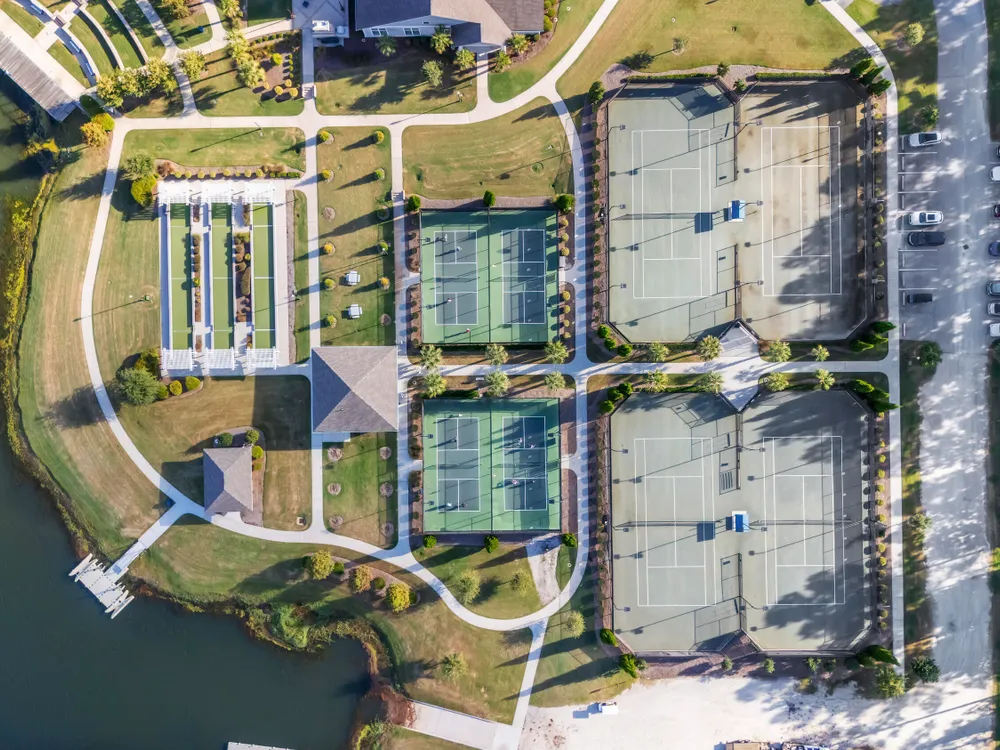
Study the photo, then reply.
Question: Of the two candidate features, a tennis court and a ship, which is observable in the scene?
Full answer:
Of the two, only a tennis court appears.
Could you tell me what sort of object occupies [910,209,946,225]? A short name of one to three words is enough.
car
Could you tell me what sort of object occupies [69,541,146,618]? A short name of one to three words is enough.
pier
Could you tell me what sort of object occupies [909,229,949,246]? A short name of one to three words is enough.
car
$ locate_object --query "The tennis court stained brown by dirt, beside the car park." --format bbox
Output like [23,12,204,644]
[734,84,866,341]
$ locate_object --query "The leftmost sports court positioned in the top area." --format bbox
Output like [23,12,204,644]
[420,210,489,343]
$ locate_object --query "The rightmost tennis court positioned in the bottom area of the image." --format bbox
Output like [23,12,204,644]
[737,392,871,649]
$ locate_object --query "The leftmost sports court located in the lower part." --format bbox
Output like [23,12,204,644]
[423,399,491,532]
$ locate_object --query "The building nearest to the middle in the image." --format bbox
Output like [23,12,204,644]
[311,345,398,434]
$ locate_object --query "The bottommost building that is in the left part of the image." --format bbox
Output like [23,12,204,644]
[202,446,258,513]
